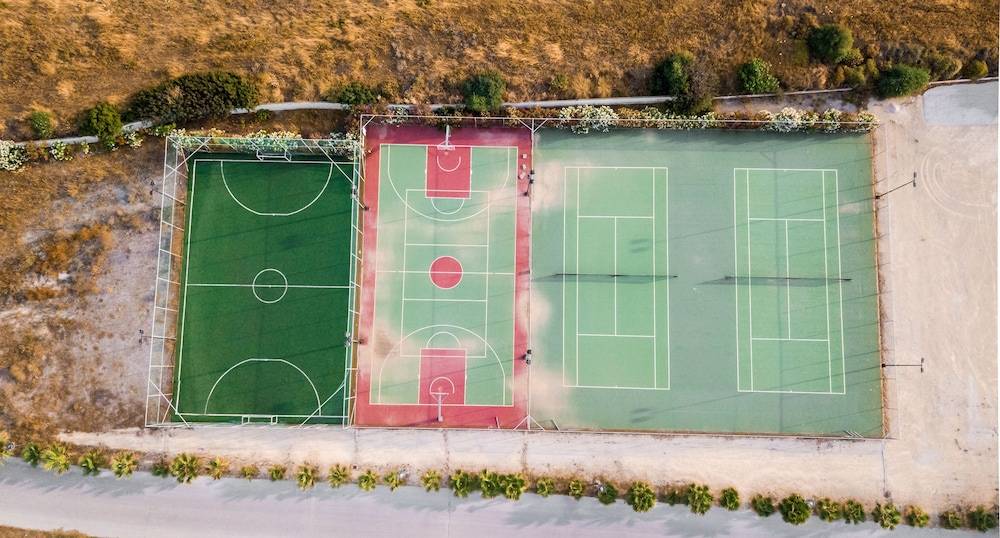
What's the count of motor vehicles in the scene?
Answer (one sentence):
The count of motor vehicles is 0.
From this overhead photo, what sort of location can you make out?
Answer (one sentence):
This image shows a sports ground.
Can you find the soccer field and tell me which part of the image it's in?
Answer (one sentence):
The soccer field is located in the left region of the scene.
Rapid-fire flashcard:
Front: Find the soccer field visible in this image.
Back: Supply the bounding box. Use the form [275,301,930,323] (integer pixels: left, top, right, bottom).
[171,153,361,424]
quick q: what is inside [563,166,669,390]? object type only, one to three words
tennis court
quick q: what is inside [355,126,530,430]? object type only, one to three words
basketball court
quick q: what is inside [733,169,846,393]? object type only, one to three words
tennis court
